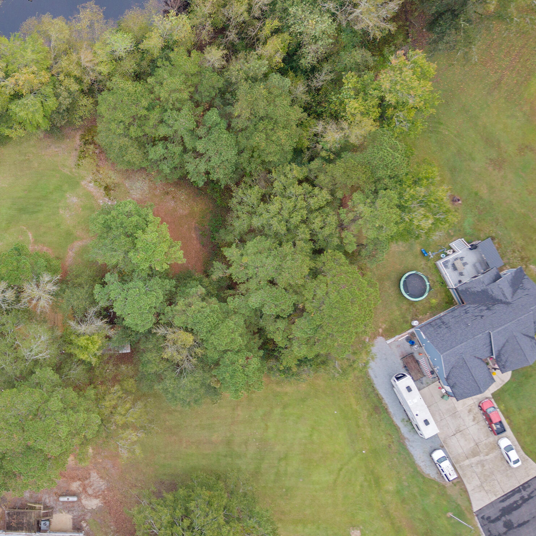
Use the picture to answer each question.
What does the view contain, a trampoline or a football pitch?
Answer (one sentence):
I can see a trampoline in this picture.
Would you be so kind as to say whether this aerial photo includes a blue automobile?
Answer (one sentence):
No, the frame has no blue automobile in it.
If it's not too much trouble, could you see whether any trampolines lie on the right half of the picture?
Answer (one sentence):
Yes, the scene does show a trampoline on the right half of the picture.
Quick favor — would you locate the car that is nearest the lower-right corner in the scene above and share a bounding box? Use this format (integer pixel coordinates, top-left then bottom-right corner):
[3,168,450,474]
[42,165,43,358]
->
[496,435,521,468]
